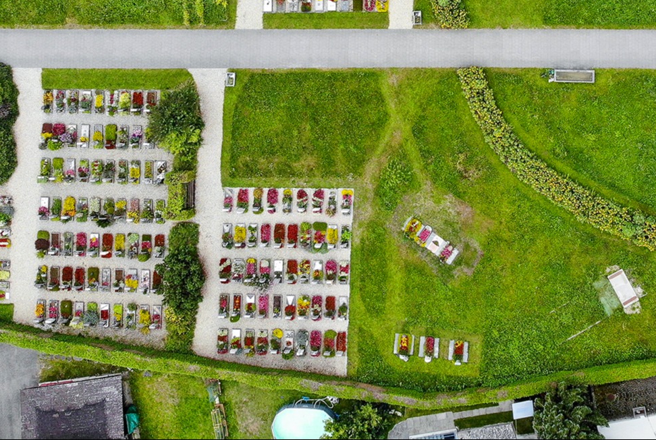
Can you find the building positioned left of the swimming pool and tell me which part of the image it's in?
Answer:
bottom left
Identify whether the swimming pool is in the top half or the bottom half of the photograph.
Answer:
bottom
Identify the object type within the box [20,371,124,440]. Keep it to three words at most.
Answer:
building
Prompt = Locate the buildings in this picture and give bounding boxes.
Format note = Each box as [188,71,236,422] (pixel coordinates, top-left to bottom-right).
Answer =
[596,403,656,440]
[409,421,517,440]
[20,371,124,440]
